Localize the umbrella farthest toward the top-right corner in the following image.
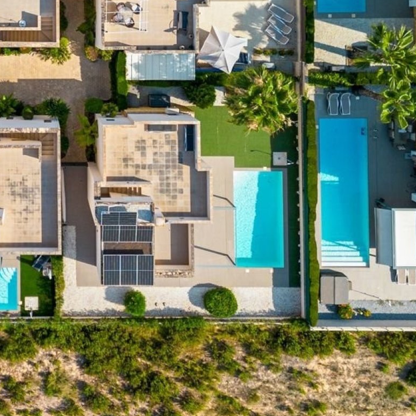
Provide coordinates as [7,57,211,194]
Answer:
[196,26,247,74]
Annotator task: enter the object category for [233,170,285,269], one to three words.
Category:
swimming pool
